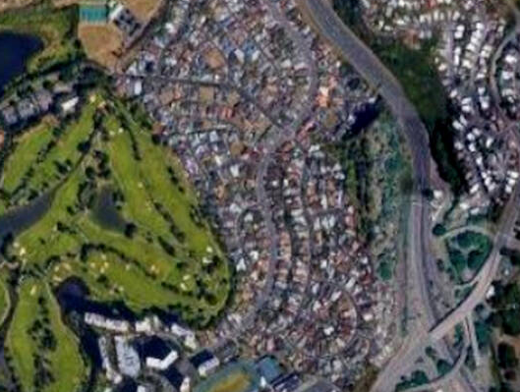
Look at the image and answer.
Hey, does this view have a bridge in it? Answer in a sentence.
Yes, there's a bridge here.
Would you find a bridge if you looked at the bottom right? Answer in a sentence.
Yes, there is a bridge at the bottom right.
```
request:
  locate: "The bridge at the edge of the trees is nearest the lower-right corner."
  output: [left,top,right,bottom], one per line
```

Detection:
[413,248,505,353]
